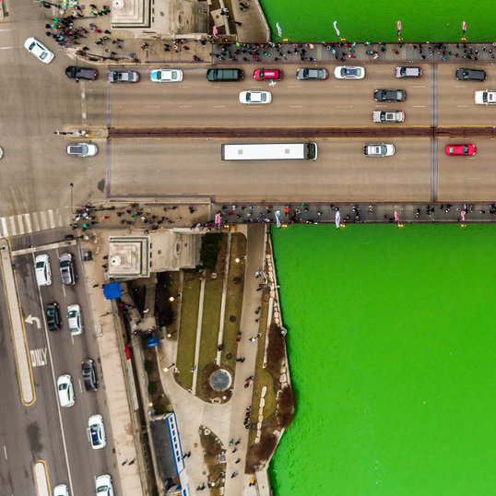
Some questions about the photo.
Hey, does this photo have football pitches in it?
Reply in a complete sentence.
No, no football pitch is visible in the scene.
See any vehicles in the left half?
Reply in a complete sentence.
Yes, in the left half there is a vehicle.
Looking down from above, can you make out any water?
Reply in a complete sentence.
Yes, some water is visible.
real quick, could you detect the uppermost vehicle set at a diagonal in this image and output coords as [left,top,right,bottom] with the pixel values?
[24,36,57,64]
